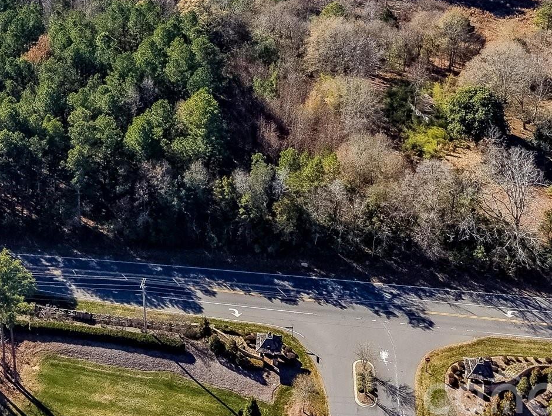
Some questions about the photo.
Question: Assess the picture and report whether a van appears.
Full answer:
No, the frame has no van in it.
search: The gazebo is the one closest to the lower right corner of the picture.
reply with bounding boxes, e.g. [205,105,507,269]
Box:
[463,354,498,395]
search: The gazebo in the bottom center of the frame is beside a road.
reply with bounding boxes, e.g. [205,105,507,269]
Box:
[255,329,283,367]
